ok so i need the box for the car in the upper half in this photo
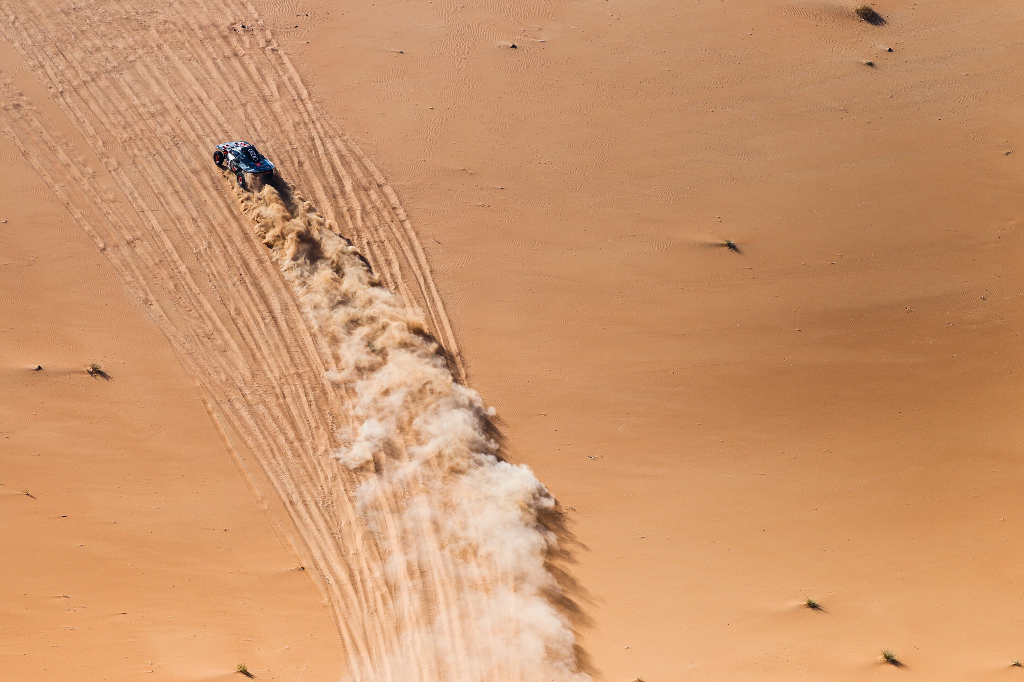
[211,139,276,188]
